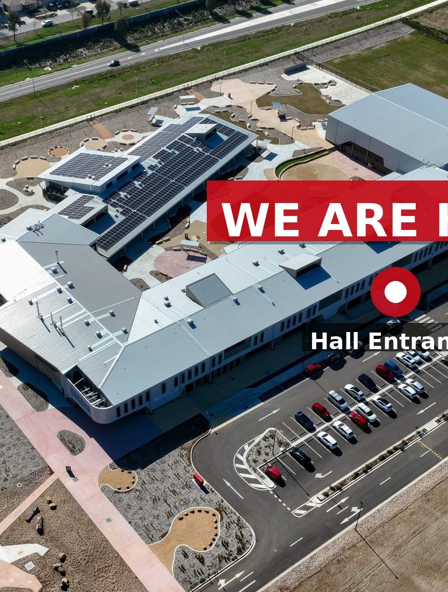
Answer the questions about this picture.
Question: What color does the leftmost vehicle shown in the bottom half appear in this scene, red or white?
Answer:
red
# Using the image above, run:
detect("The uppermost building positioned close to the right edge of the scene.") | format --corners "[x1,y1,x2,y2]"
[329,82,448,173]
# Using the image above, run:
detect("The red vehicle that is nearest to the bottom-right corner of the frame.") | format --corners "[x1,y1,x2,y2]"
[350,413,367,429]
